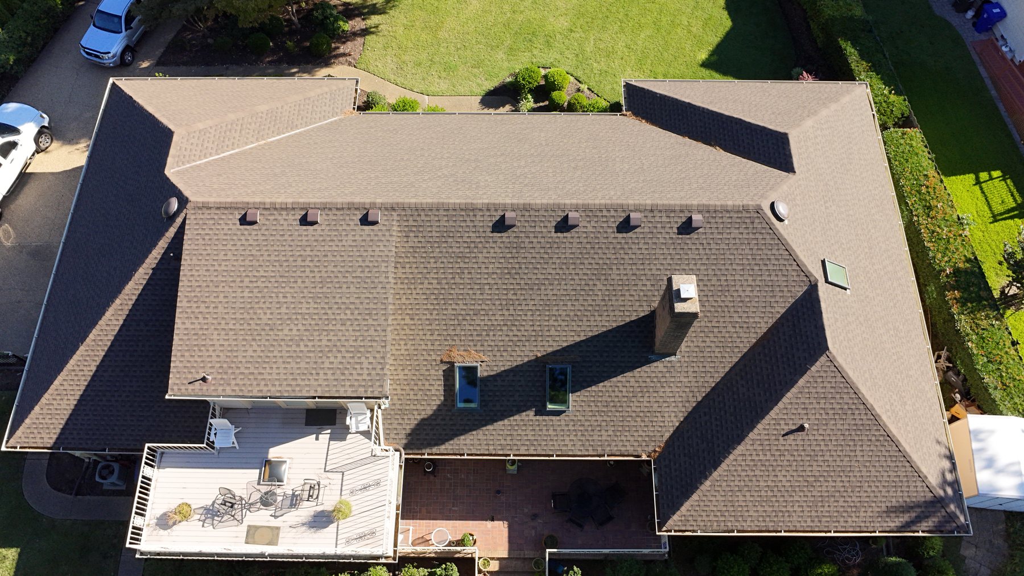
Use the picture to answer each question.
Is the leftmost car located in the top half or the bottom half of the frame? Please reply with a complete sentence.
The leftmost car is in the top half of the image.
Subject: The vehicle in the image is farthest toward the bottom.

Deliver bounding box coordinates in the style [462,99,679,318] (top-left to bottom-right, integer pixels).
[0,100,51,206]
